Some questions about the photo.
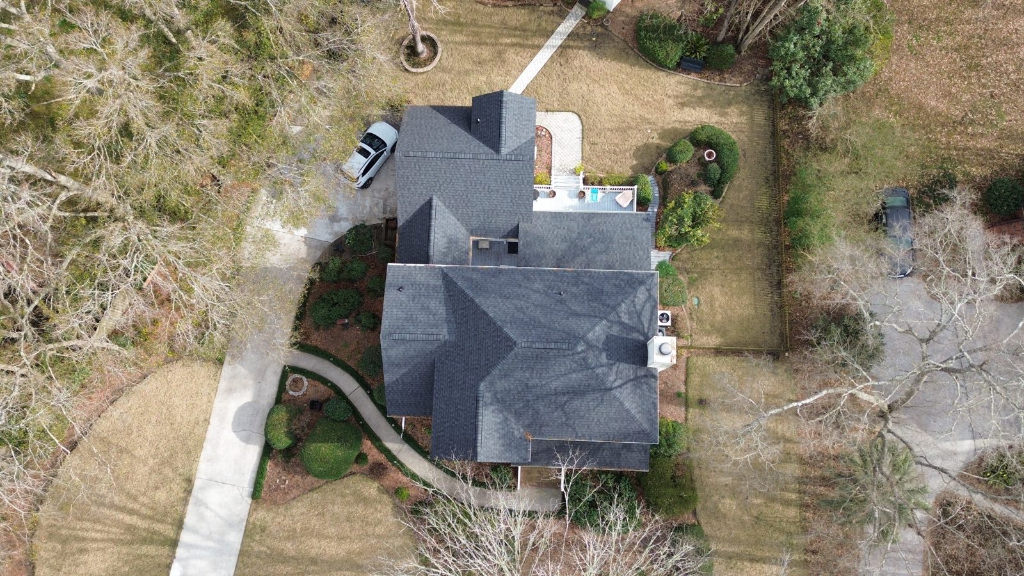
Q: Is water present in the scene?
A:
No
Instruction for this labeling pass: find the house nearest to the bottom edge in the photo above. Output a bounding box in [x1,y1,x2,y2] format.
[381,88,680,489]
